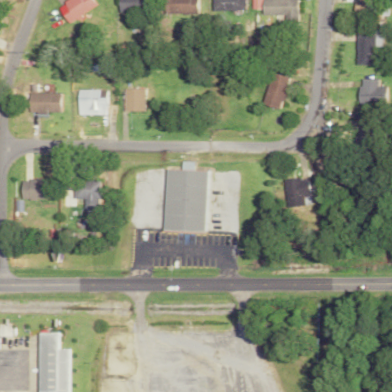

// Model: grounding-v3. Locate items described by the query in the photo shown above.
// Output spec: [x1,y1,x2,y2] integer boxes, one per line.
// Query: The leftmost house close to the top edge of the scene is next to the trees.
[61,0,100,23]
